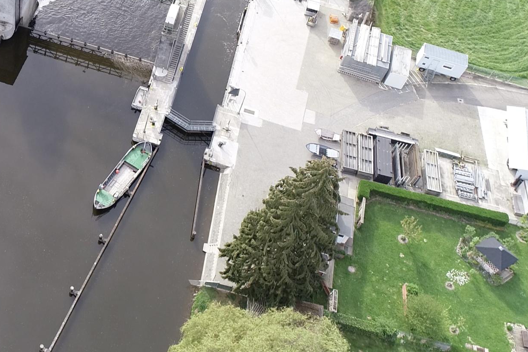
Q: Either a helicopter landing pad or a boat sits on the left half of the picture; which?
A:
boat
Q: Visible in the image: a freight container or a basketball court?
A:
freight container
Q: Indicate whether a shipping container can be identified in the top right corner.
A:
Yes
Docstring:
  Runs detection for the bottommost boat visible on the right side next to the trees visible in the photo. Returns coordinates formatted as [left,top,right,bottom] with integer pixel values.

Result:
[305,142,340,160]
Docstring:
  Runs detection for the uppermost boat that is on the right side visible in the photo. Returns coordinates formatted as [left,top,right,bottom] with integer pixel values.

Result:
[313,128,340,142]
